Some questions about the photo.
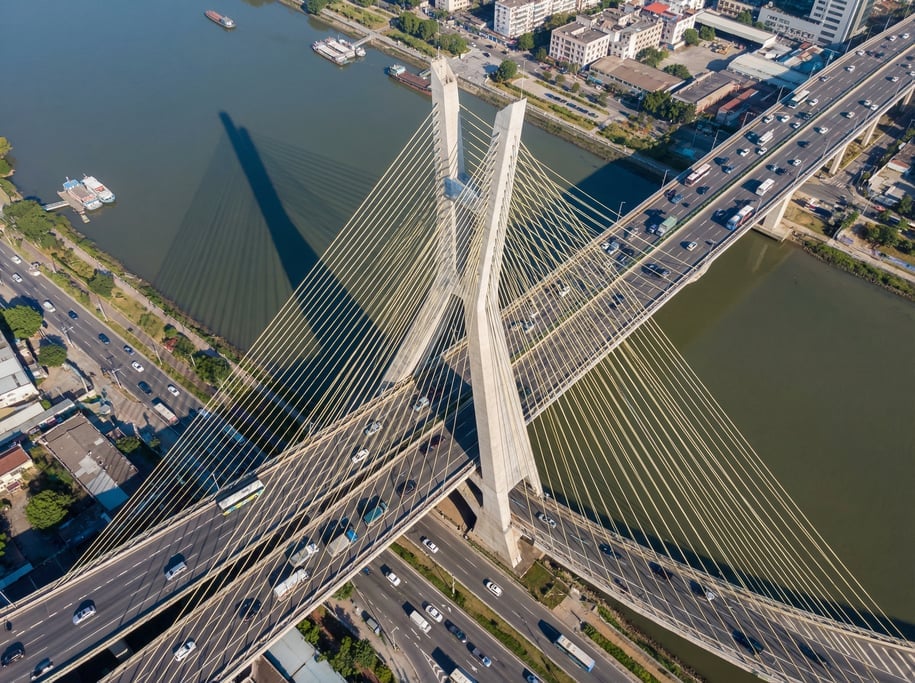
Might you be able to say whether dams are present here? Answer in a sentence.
No, there appears to be no dam in this shot.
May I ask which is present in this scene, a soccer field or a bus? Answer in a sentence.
Of the two, only a bus appears.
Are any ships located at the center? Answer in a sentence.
No, no ship appears at the center.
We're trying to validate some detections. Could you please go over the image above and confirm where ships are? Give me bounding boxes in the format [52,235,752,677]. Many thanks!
[78,171,116,204]
[314,45,345,68]
[205,13,238,31]
[56,173,103,212]
[326,38,357,58]
[386,62,434,97]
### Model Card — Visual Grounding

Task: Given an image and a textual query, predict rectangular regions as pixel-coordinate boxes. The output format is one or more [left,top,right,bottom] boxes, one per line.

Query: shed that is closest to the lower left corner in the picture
[0,561,40,603]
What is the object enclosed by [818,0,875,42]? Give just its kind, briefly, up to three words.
building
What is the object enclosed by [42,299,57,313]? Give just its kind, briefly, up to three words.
vehicle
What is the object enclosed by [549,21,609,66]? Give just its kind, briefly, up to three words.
building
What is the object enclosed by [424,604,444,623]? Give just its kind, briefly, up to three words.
car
